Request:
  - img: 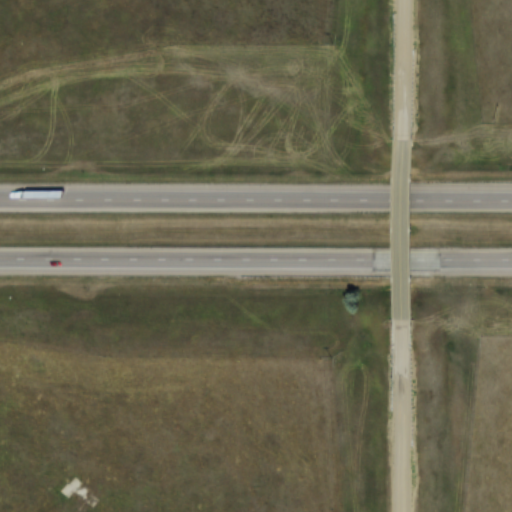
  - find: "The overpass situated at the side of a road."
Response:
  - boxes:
[390,139,412,324]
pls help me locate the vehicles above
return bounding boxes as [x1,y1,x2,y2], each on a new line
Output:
[50,260,61,265]
[10,192,62,200]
